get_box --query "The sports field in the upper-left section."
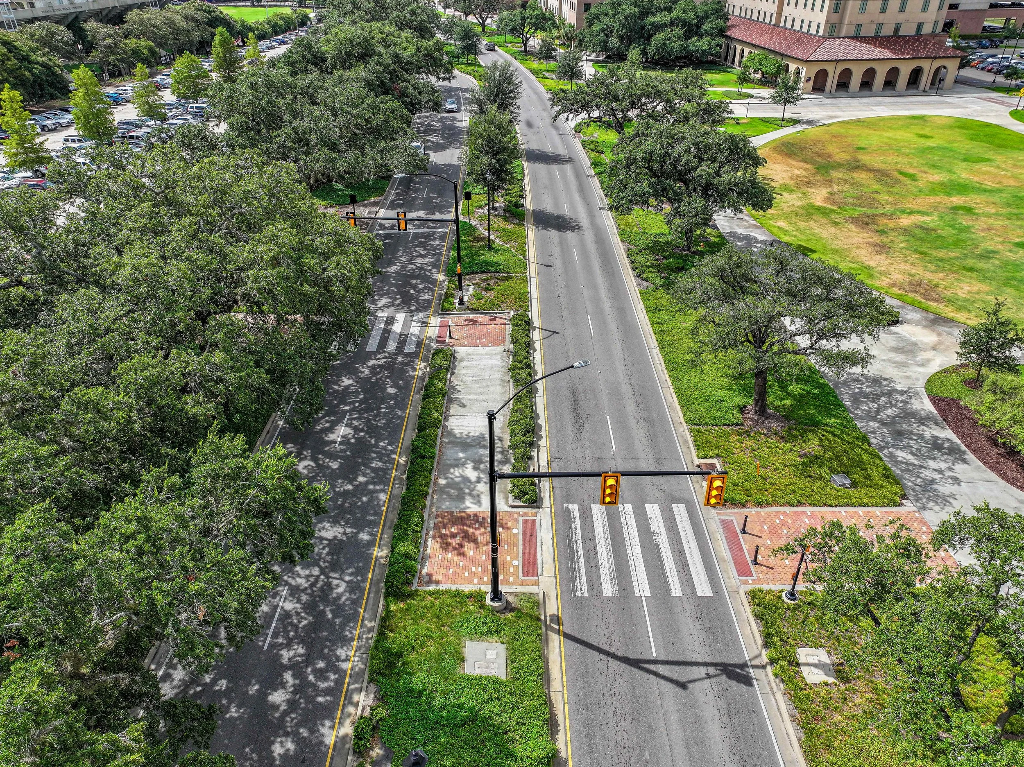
[224,3,285,23]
